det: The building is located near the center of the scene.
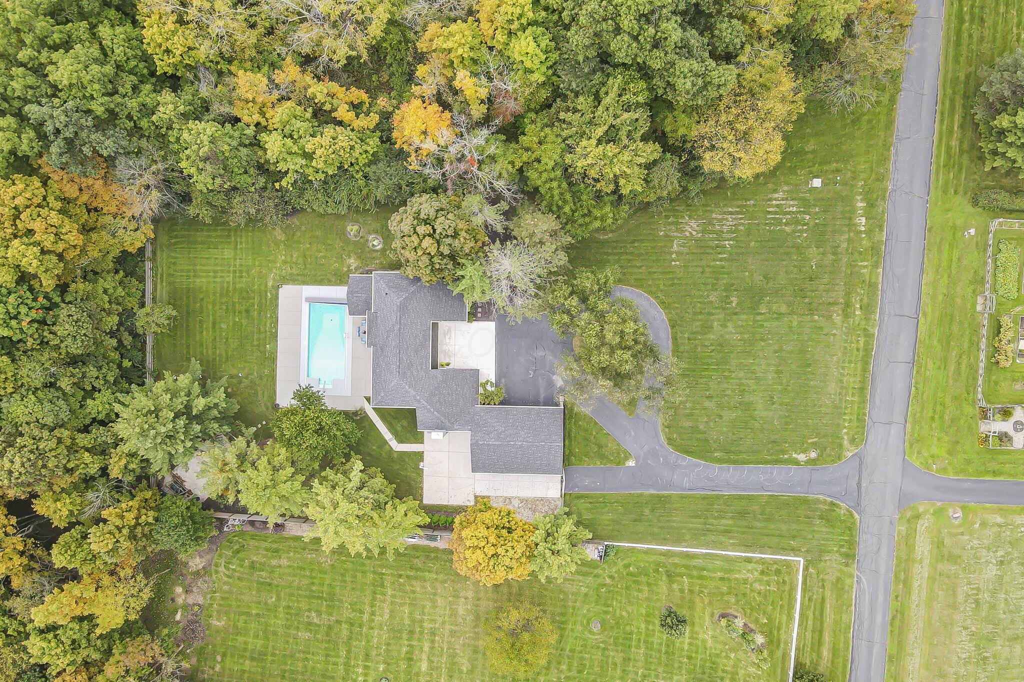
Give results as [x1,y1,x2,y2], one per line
[347,271,564,474]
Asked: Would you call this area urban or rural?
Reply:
rural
